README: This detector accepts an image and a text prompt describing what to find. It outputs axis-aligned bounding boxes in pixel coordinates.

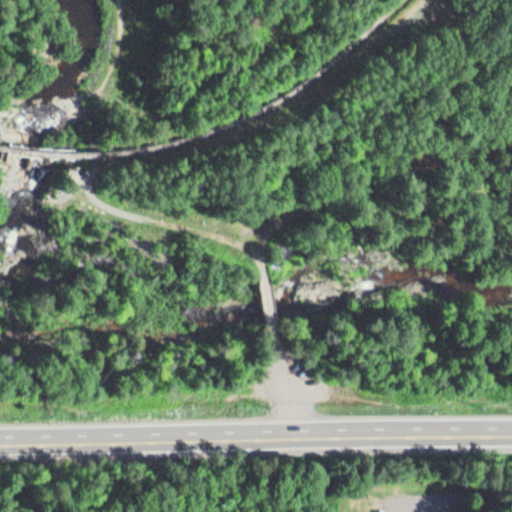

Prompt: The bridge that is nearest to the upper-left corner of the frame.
[0,144,78,164]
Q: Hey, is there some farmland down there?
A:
No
